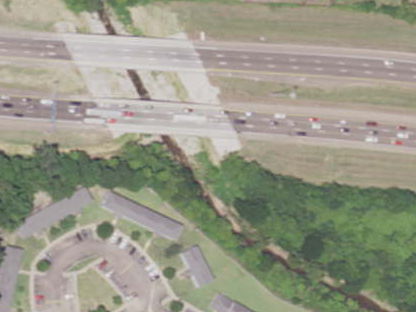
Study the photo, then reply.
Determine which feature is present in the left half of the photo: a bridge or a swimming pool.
bridge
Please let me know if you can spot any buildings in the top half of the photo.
No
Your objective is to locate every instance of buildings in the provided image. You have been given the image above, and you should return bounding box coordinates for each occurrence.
[14,185,92,240]
[209,294,252,312]
[99,192,182,240]
[0,244,24,312]
[180,245,214,286]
